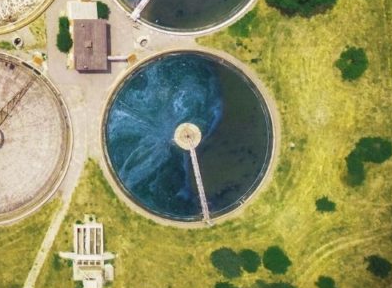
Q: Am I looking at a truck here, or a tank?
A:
tank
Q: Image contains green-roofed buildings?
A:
No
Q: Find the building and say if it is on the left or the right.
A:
left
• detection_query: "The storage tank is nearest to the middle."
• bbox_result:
[100,46,280,226]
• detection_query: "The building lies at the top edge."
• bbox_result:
[65,1,128,71]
